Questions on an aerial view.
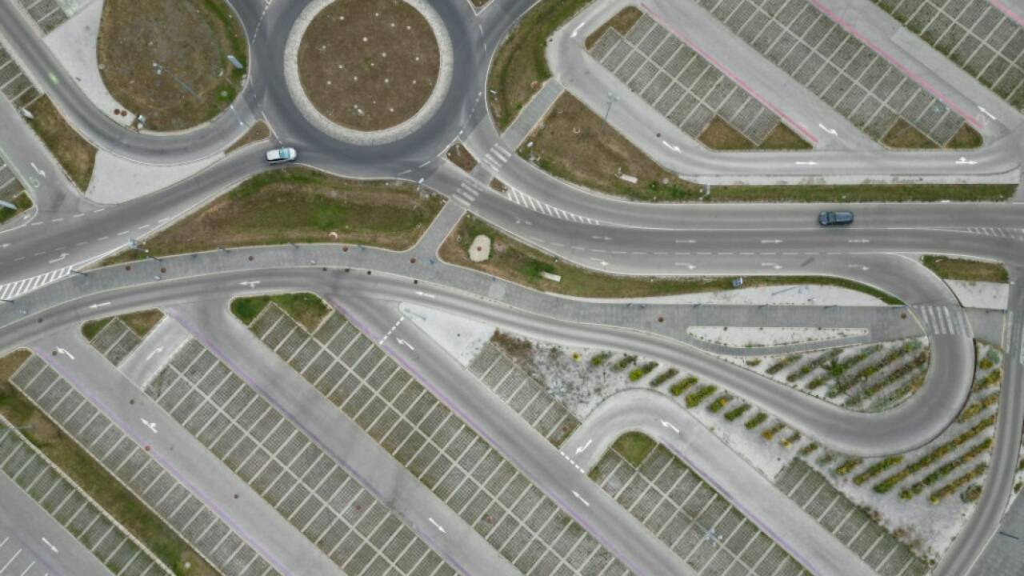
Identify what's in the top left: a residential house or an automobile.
automobile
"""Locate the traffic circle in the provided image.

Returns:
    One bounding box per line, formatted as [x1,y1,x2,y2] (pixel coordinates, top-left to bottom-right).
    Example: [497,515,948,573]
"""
[227,0,537,193]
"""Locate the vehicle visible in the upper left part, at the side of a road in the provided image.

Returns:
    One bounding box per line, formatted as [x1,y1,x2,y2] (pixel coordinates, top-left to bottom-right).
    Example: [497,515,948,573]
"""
[264,147,295,164]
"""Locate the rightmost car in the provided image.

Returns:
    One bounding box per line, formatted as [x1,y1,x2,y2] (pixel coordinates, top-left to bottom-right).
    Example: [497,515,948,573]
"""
[818,210,855,226]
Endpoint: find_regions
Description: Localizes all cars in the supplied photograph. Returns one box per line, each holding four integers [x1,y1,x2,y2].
[264,147,295,164]
[818,210,855,226]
